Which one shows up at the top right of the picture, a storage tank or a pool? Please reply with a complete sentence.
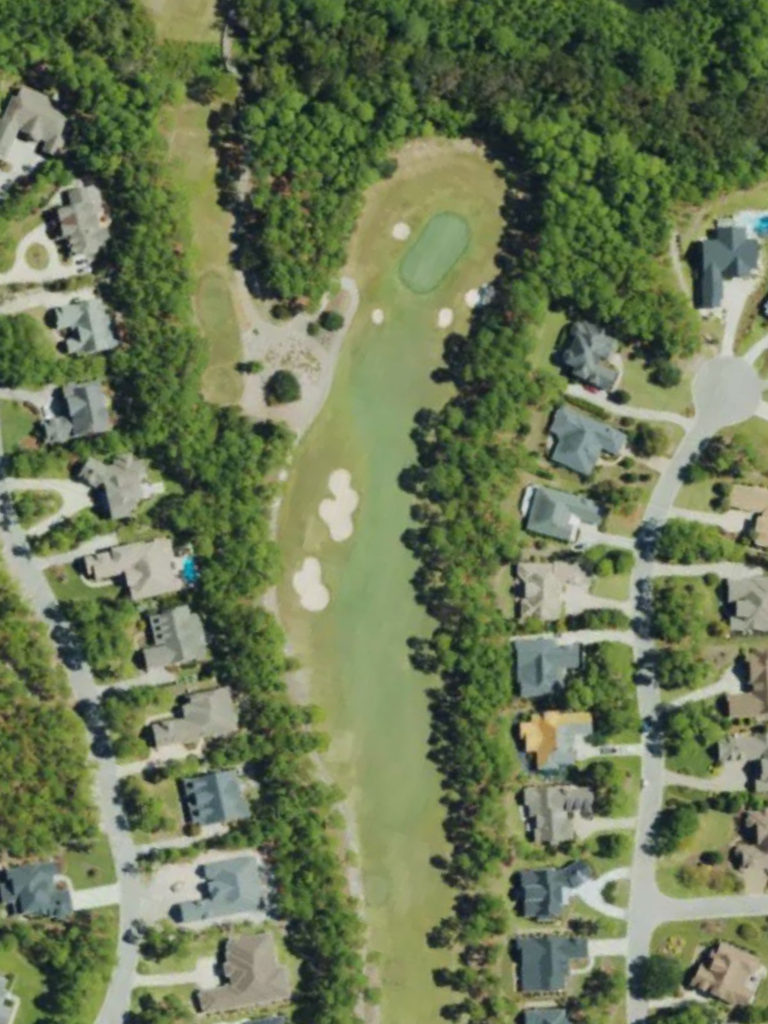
You can see a pool at the top right of the picture.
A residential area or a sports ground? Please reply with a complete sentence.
It's a residential area.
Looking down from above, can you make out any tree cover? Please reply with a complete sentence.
Yes, there is tree cover in the image.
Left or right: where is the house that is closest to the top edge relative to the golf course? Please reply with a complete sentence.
From the viewer's perspective, the house that is closest to the top edge falls to the left of the golf course.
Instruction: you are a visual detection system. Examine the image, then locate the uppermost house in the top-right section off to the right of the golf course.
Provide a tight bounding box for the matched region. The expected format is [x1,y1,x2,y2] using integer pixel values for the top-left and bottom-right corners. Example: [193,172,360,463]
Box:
[700,226,759,307]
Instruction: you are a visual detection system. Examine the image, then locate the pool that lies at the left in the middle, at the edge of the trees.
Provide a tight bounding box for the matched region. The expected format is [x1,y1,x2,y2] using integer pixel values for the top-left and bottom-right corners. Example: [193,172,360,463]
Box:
[176,550,197,585]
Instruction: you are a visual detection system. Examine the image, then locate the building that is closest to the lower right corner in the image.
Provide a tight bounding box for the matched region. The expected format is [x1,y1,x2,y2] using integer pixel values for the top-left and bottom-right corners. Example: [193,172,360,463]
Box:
[689,941,762,1008]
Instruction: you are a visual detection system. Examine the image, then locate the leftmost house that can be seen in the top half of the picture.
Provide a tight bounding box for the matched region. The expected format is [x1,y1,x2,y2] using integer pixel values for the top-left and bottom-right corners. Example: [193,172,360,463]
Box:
[0,85,74,162]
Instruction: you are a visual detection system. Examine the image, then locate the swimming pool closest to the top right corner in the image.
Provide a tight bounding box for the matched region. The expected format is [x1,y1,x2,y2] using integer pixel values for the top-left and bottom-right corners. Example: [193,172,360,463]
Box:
[733,209,768,240]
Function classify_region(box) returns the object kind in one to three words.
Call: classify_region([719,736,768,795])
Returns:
house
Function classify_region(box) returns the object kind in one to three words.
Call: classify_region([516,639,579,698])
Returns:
house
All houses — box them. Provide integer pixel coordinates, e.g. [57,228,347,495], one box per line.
[551,405,629,475]
[728,650,768,718]
[516,561,591,622]
[517,864,586,919]
[516,639,579,698]
[0,982,16,1024]
[719,736,768,795]
[56,184,117,260]
[184,771,252,826]
[736,811,768,868]
[72,456,151,520]
[181,854,267,925]
[519,485,604,542]
[728,580,768,633]
[689,941,762,1008]
[144,607,213,673]
[517,934,588,991]
[152,683,241,750]
[0,85,74,162]
[83,539,184,601]
[47,382,111,444]
[700,226,759,307]
[0,863,75,917]
[518,785,594,845]
[558,319,623,391]
[54,296,122,355]
[523,1009,567,1024]
[520,711,592,767]
[203,932,295,1013]
[731,483,768,547]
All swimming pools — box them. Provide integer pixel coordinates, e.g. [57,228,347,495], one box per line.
[176,550,197,585]
[733,209,768,240]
